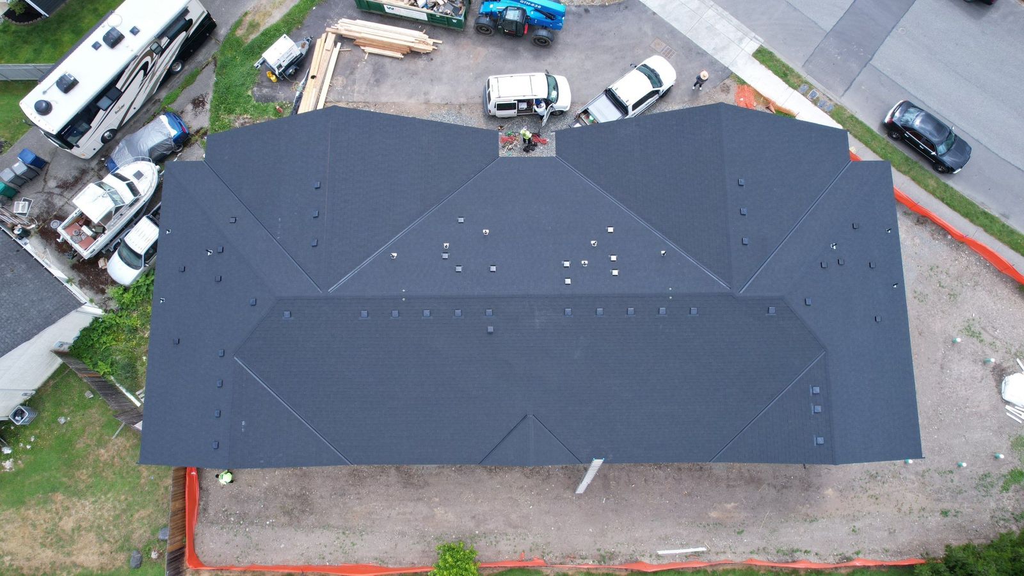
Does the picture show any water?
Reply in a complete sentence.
No, there is no water in the image.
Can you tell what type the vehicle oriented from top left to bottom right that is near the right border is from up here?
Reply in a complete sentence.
Specifically, the vehicle oriented from top left to bottom right that is near the right border is an automobile.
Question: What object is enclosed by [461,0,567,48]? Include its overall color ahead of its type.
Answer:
blue work vehicle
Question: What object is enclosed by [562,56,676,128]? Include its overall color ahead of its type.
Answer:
white truck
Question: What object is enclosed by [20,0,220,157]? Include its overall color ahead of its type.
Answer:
white camper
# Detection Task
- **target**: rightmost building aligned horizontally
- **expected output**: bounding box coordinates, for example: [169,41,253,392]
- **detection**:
[139,102,922,468]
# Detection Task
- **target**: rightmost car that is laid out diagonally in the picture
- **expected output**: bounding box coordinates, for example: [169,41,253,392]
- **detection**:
[882,98,976,177]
